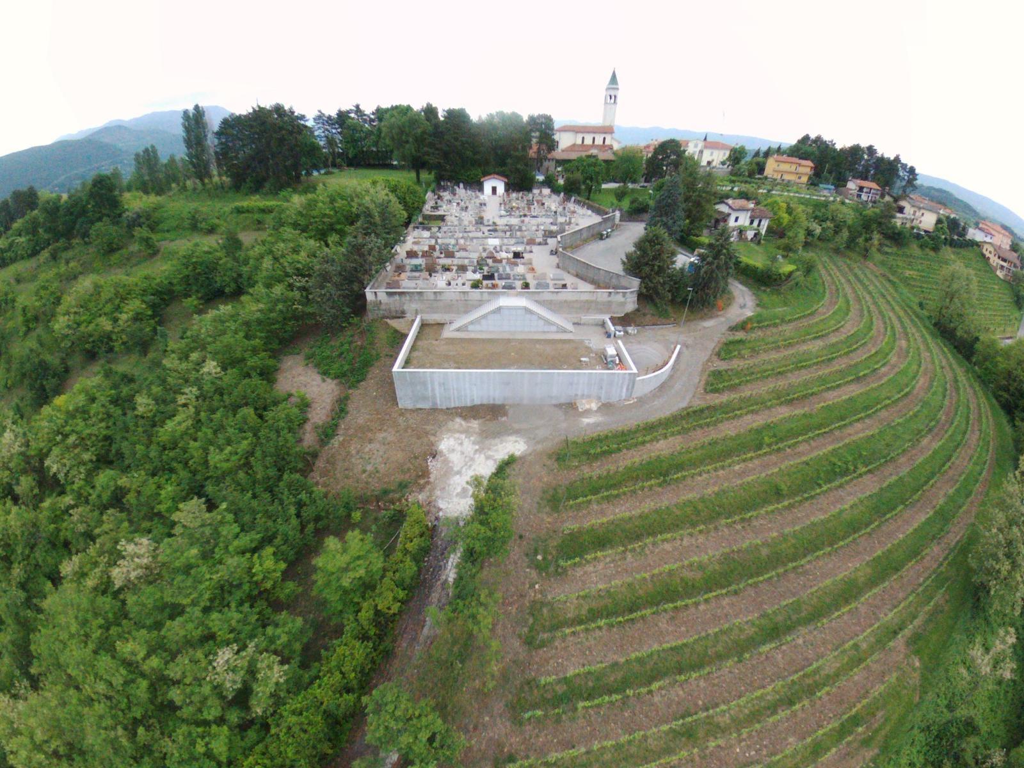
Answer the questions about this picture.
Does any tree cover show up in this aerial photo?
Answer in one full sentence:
Yes, the picture does contain tree cover.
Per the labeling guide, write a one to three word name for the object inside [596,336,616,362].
vehicle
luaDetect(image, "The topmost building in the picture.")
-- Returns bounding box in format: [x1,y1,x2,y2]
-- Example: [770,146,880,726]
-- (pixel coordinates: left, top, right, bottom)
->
[606,66,625,126]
